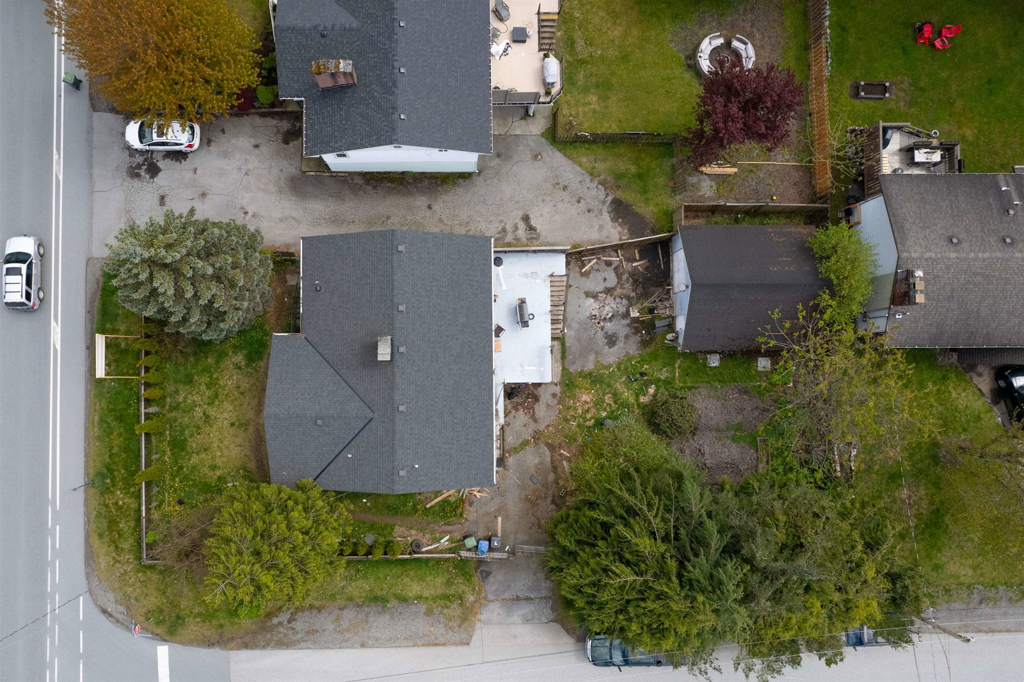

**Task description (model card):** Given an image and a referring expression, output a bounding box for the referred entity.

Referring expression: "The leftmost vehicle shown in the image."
[1,235,45,310]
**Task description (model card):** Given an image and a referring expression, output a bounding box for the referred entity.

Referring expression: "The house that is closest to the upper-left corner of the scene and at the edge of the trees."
[268,0,494,174]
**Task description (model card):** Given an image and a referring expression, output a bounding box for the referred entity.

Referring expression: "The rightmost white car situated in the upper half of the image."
[126,113,201,151]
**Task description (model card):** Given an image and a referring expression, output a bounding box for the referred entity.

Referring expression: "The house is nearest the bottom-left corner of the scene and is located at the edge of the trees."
[264,232,497,494]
